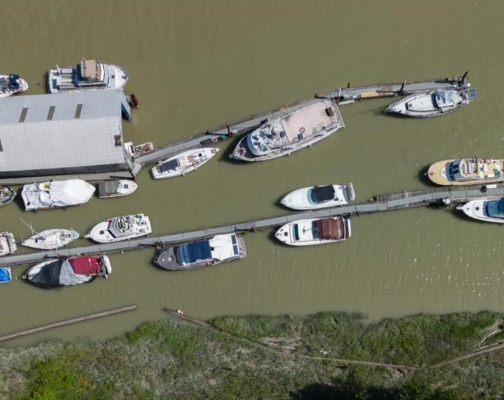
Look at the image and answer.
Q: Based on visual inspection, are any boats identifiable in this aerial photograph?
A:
Yes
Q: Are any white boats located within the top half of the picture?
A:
Yes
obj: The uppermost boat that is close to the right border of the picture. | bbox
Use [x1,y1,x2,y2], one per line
[385,84,479,118]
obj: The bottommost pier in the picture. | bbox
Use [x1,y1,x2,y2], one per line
[0,183,504,266]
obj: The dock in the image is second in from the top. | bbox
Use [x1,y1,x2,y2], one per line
[0,168,133,186]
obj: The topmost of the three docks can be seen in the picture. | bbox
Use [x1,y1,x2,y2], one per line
[134,75,470,166]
